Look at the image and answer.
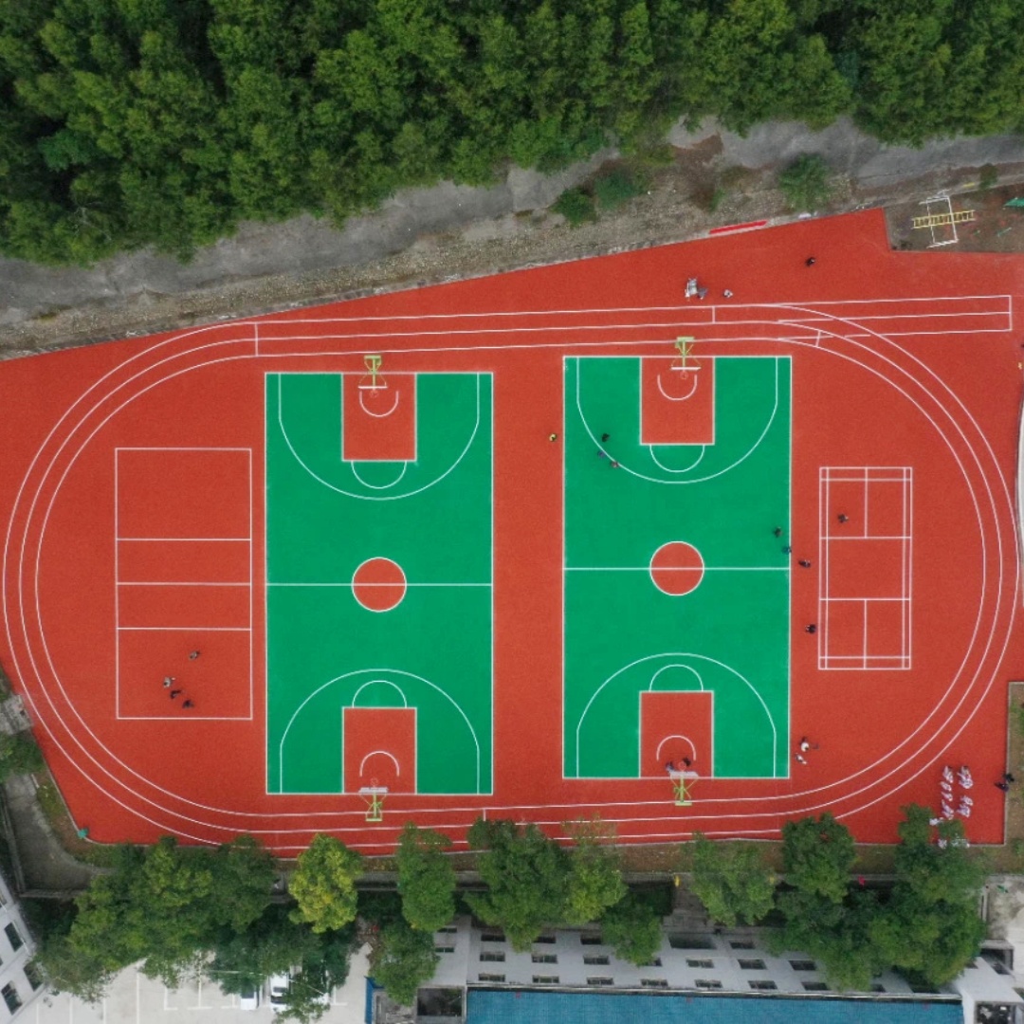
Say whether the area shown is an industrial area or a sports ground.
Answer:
sports ground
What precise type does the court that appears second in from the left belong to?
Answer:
basketball court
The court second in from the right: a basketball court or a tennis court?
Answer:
basketball court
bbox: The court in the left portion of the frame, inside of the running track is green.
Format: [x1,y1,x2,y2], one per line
[265,371,493,794]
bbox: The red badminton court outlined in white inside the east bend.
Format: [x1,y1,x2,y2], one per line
[818,466,914,670]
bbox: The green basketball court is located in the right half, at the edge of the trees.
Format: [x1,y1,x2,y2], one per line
[563,356,792,779]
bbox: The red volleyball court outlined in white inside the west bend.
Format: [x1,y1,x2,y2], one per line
[114,447,253,719]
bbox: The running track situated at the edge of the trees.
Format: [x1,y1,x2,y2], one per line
[0,208,1024,859]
